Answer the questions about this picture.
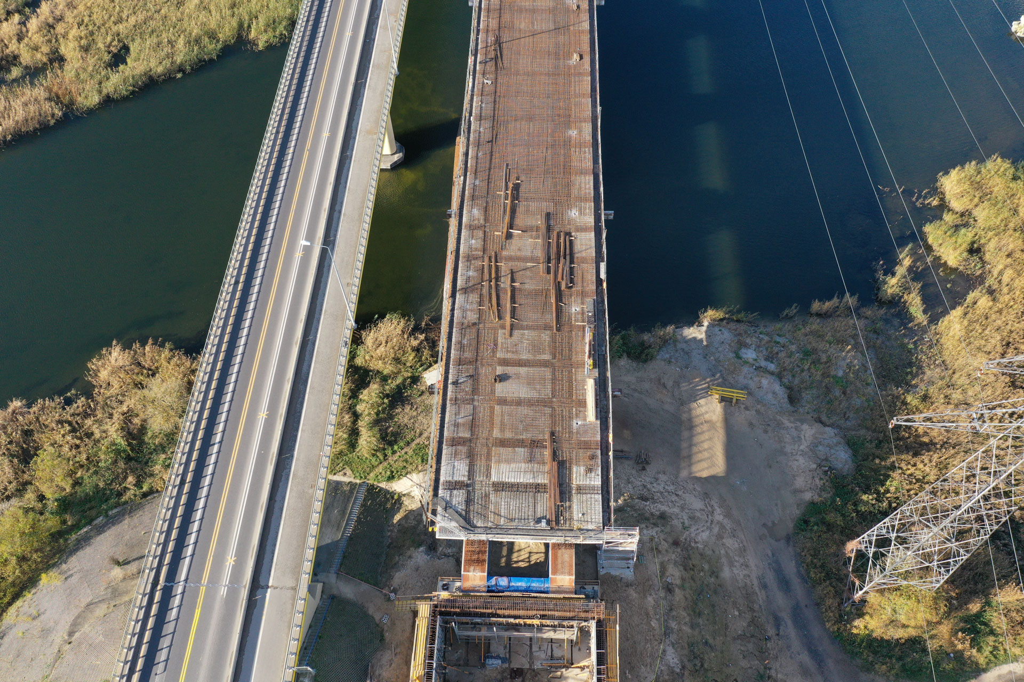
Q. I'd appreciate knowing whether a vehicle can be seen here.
No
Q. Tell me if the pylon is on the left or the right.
right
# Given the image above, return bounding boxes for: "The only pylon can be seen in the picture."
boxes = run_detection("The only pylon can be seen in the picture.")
[831,353,1024,607]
